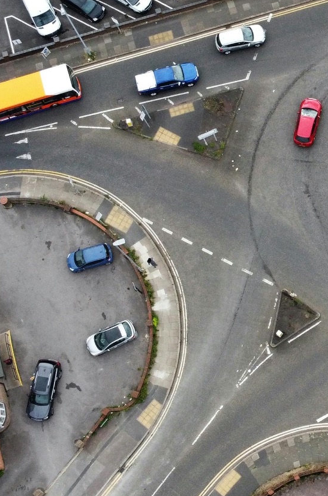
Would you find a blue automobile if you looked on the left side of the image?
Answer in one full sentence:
Yes, a blue automobile can be seen on the left side of the image.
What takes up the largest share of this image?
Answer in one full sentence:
What you mostly see from above here is paved ground.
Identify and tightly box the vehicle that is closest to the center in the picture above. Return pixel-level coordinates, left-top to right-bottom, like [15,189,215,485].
[64,241,113,270]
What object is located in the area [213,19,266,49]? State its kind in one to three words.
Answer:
car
